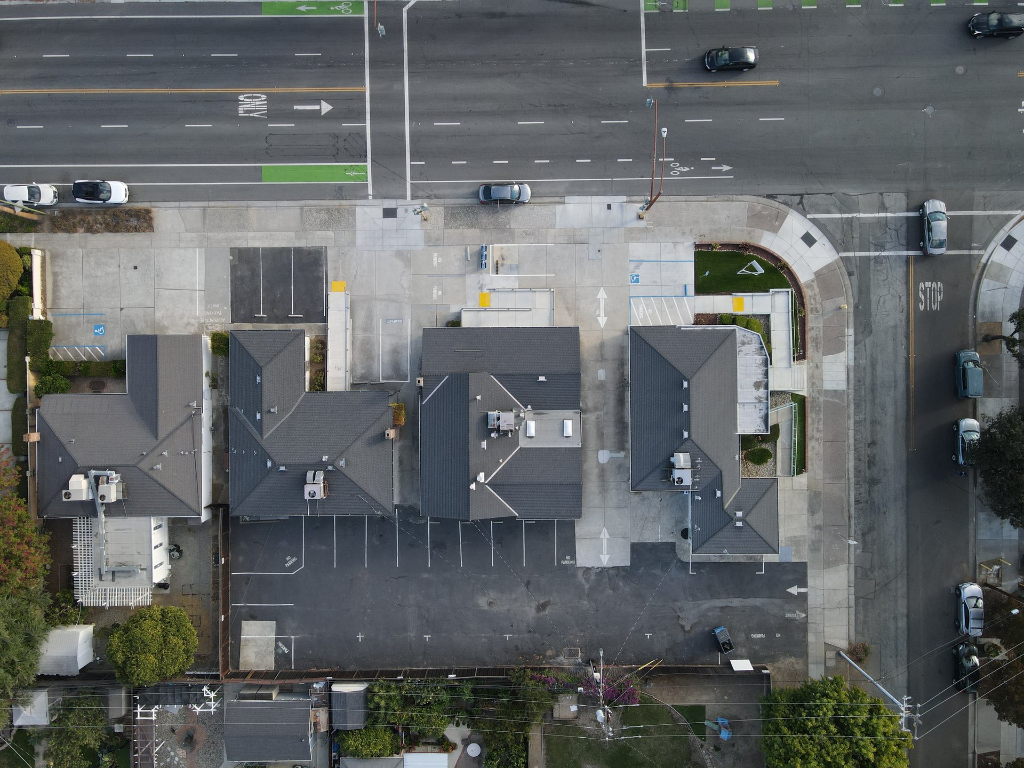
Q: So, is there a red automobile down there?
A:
No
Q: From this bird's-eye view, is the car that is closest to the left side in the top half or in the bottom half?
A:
top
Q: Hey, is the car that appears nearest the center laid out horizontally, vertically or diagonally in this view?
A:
horizontally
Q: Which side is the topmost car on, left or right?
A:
right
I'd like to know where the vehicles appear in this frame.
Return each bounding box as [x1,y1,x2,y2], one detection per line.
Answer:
[955,349,985,398]
[1,182,58,206]
[952,418,982,467]
[479,180,531,205]
[704,44,758,71]
[920,200,949,254]
[951,642,980,694]
[968,10,1024,40]
[70,178,128,204]
[954,583,984,637]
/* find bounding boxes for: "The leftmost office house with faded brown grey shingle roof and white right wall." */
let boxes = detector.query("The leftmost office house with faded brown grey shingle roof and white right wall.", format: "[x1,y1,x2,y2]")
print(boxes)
[23,334,211,518]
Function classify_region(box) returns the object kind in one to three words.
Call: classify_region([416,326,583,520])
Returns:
house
